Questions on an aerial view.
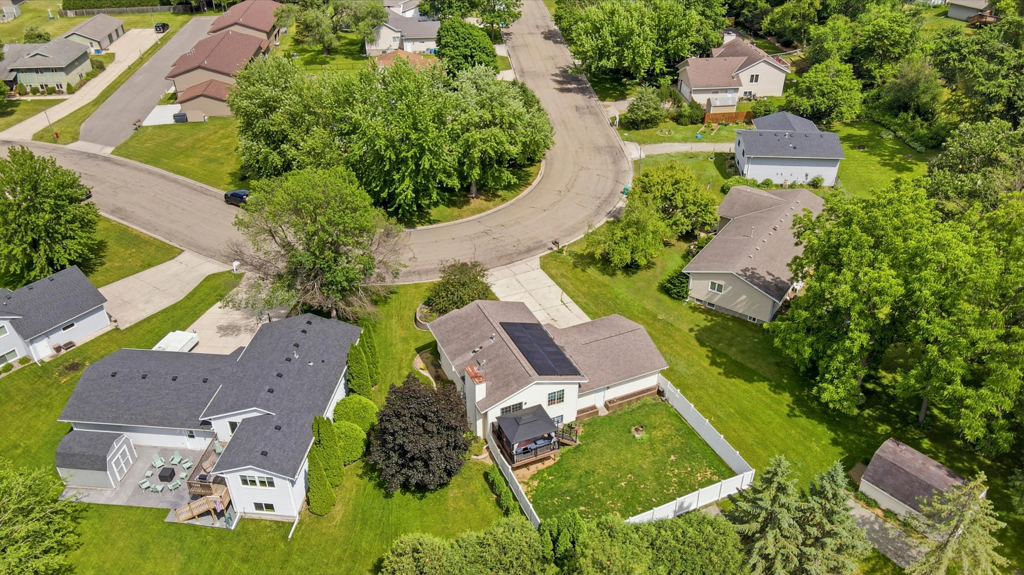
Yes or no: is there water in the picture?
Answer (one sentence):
No, water can't be seen anywhere here.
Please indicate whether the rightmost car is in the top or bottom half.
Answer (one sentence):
It is in the top half that the rightmost car appears.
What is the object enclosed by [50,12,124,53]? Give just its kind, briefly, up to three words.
building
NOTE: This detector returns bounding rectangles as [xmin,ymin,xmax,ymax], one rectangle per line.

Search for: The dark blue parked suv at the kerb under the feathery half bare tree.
[220,185,255,205]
